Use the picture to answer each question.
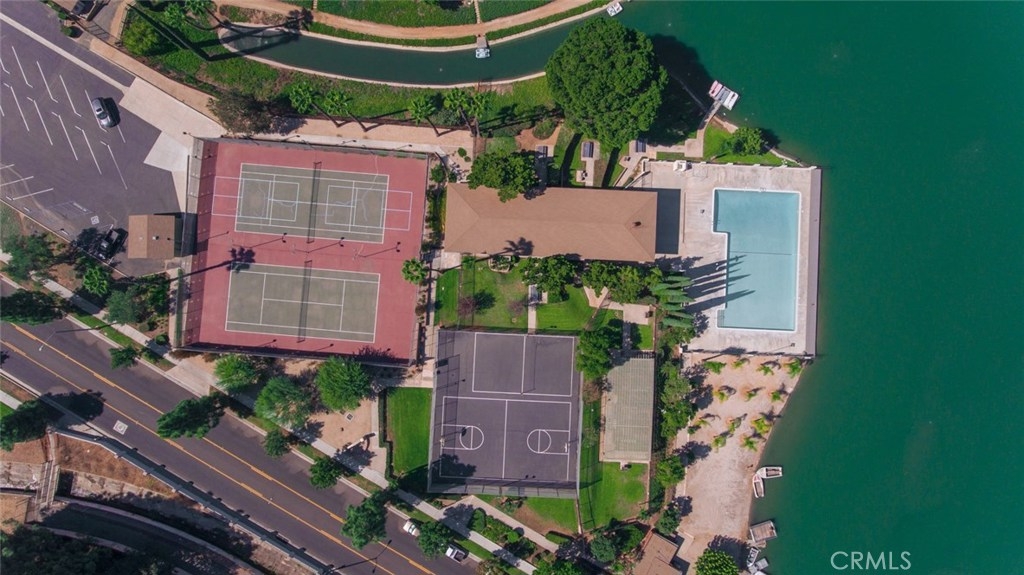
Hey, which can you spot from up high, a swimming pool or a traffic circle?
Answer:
swimming pool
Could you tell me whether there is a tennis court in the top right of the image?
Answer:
No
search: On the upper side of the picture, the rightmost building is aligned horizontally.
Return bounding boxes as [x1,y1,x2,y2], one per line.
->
[444,184,657,262]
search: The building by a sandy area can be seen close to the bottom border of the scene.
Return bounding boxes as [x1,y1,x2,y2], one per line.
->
[624,527,684,575]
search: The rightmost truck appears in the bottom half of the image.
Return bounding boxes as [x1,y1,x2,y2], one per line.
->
[449,540,474,567]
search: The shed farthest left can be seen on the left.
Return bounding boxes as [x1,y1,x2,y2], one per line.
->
[128,215,180,258]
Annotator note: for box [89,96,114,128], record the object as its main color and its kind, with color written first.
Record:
gray car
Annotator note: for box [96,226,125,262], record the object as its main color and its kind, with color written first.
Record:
black truck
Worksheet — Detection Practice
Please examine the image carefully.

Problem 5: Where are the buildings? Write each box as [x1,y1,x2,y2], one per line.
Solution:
[624,527,684,575]
[128,215,180,258]
[444,184,657,262]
